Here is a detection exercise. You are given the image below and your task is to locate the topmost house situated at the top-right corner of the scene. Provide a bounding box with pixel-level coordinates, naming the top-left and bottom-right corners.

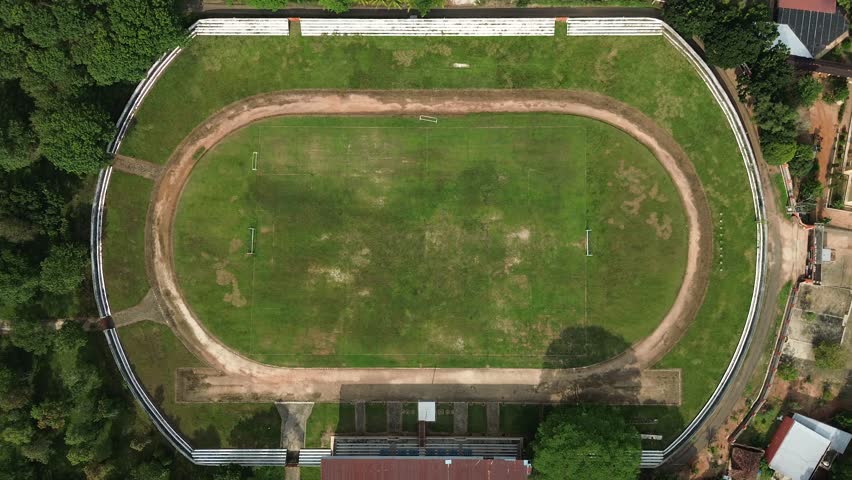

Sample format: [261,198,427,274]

[760,0,850,59]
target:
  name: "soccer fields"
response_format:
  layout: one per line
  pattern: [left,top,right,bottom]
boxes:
[252,126,587,355]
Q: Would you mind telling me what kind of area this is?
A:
sports ground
